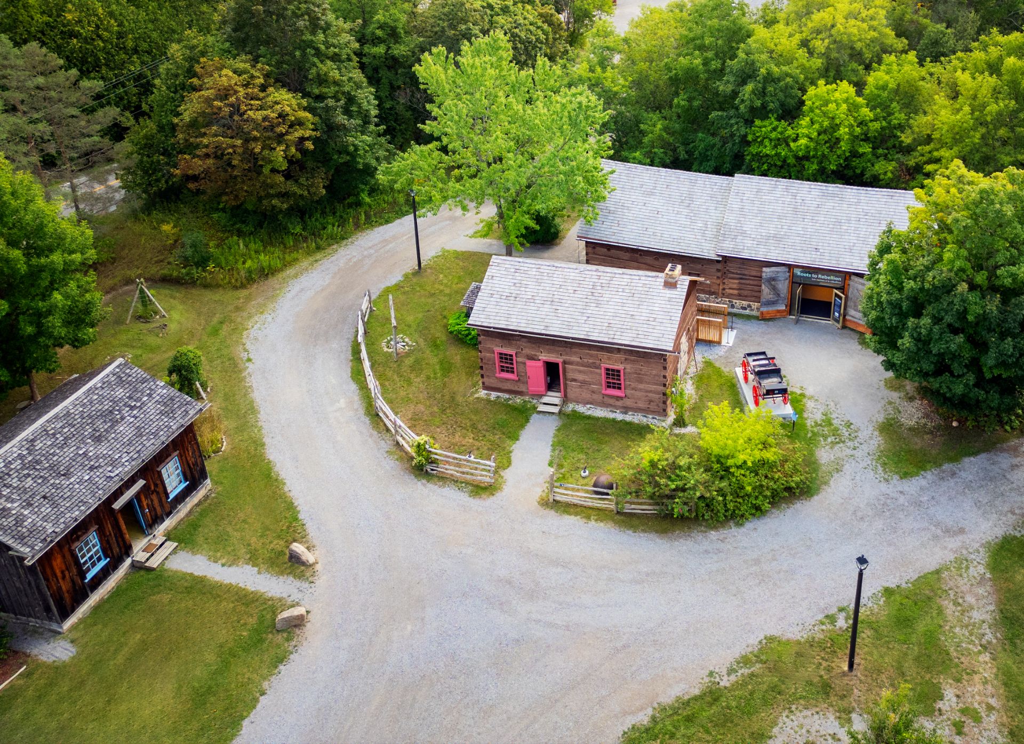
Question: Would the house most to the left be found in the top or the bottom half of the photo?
bottom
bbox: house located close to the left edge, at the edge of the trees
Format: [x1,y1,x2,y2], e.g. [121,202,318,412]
[0,356,215,633]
